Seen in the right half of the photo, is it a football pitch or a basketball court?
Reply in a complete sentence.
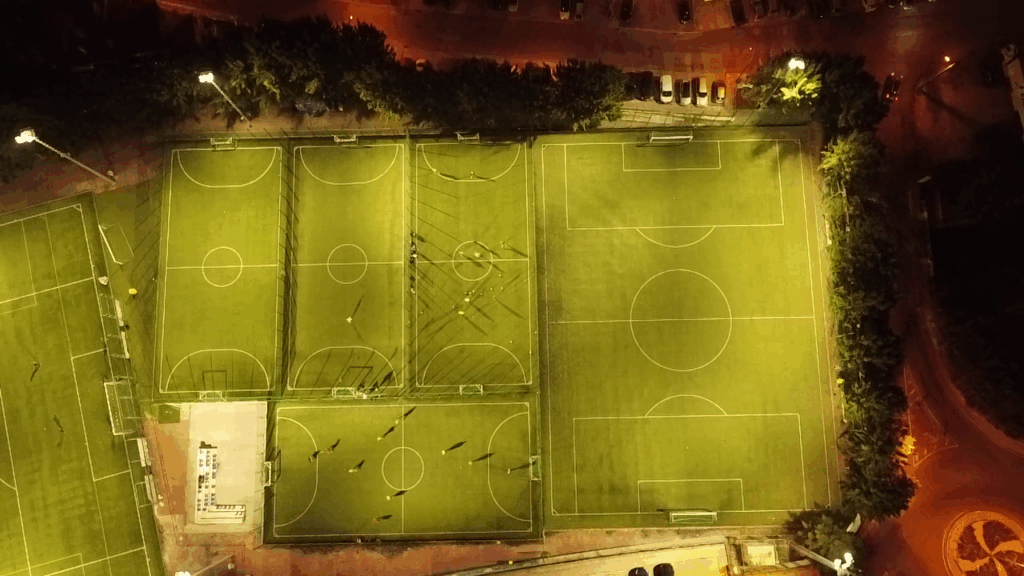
What appears in the right half of the photo is a football pitch.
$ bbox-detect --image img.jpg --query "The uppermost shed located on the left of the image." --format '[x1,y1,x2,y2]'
[158,406,182,424]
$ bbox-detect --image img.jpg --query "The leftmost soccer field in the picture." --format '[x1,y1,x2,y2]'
[0,192,165,576]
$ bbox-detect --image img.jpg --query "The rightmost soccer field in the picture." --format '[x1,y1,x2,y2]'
[534,127,840,530]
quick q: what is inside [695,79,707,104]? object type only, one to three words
vehicle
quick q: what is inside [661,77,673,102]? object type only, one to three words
vehicle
